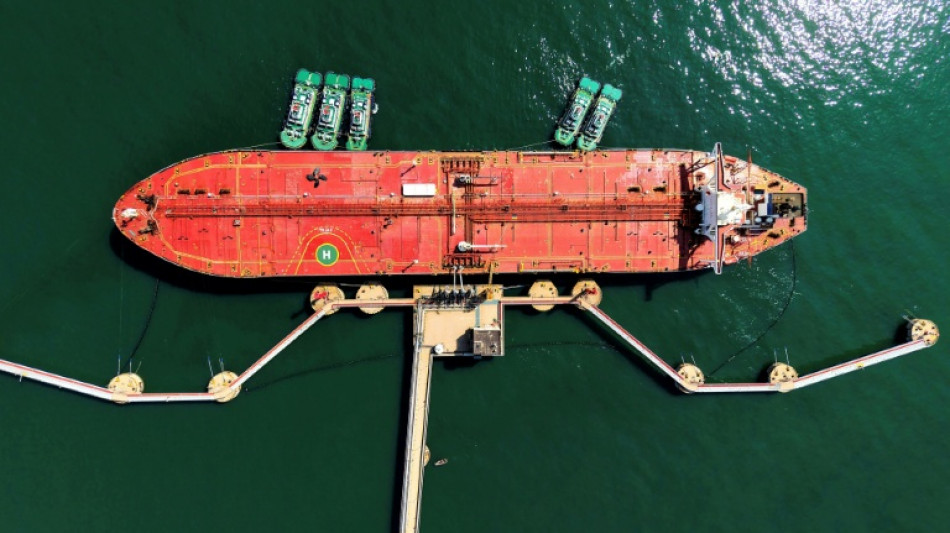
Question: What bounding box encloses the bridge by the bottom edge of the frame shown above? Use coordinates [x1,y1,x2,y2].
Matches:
[400,362,432,533]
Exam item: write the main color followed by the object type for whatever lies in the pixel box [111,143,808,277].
red ship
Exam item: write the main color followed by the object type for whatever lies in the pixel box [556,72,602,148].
green boat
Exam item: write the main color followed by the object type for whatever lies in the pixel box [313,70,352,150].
green boat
